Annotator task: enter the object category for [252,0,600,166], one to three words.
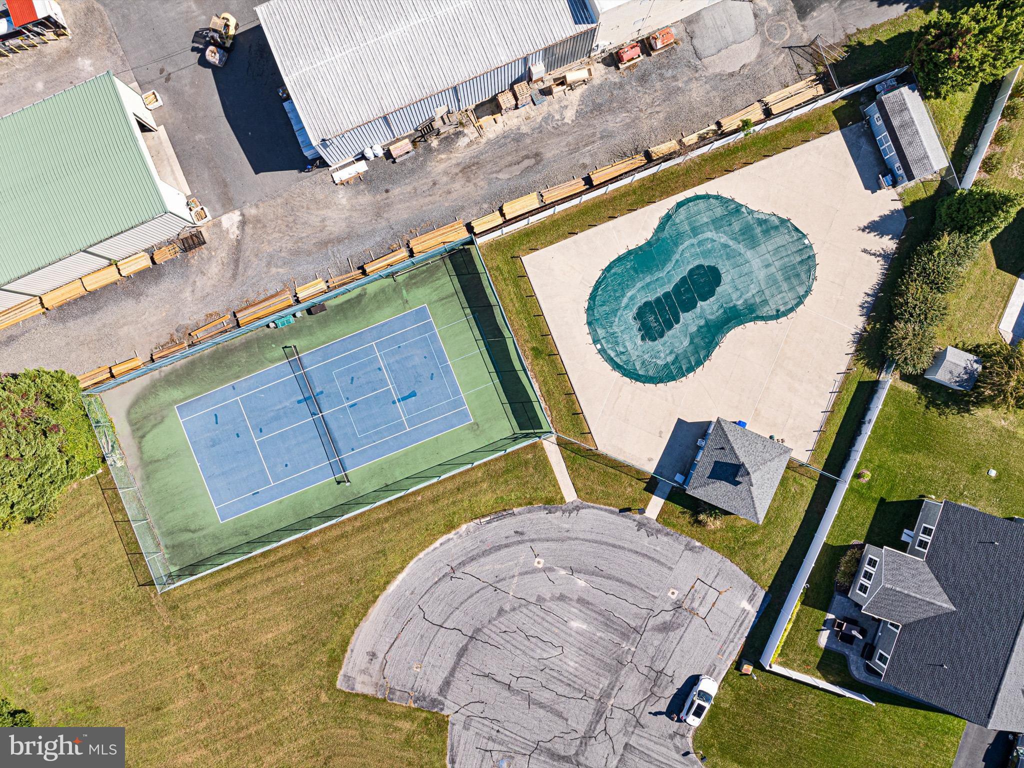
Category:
building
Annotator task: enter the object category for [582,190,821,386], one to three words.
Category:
swimming pool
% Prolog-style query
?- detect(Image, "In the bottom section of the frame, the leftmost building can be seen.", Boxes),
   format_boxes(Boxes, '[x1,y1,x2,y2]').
[684,417,794,525]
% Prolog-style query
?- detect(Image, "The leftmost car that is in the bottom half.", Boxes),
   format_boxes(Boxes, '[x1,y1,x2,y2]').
[681,671,717,728]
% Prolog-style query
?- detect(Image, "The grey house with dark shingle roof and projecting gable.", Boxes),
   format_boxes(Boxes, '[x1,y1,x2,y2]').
[849,499,1024,734]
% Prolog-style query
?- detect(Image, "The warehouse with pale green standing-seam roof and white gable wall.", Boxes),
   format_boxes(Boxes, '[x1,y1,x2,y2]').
[0,67,195,309]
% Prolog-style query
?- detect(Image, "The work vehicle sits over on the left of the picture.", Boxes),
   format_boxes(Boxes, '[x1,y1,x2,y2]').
[211,13,241,60]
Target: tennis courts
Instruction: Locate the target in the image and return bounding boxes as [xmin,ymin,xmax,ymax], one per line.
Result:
[98,243,551,585]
